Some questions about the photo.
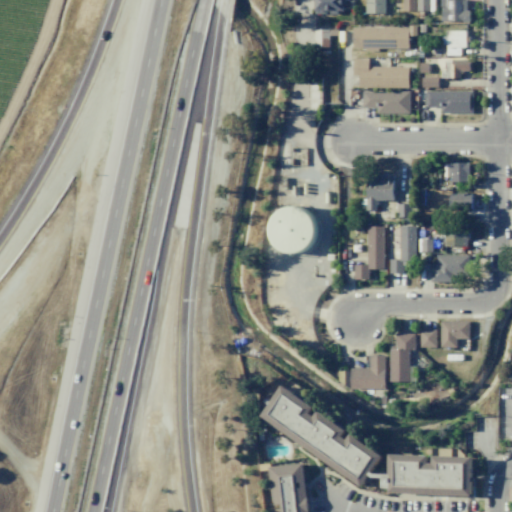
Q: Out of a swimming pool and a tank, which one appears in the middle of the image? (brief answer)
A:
tank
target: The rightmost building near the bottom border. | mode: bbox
[387,456,473,498]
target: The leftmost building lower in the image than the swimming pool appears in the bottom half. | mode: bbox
[270,464,310,512]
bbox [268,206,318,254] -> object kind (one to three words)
storage tank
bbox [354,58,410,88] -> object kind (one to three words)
house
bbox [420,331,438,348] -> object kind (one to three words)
building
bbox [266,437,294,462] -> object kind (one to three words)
swimming pool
